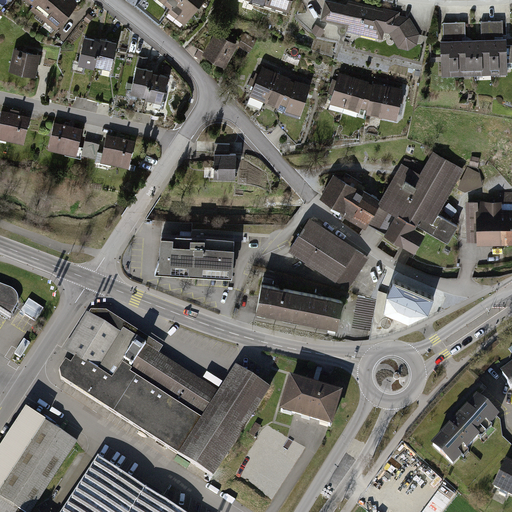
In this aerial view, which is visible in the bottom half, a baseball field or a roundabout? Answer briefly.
roundabout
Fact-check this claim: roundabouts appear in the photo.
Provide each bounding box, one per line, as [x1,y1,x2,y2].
[358,342,425,408]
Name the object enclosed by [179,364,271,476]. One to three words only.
building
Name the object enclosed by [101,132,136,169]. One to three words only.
house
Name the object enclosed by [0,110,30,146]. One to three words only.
house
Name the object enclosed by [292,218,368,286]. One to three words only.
barn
